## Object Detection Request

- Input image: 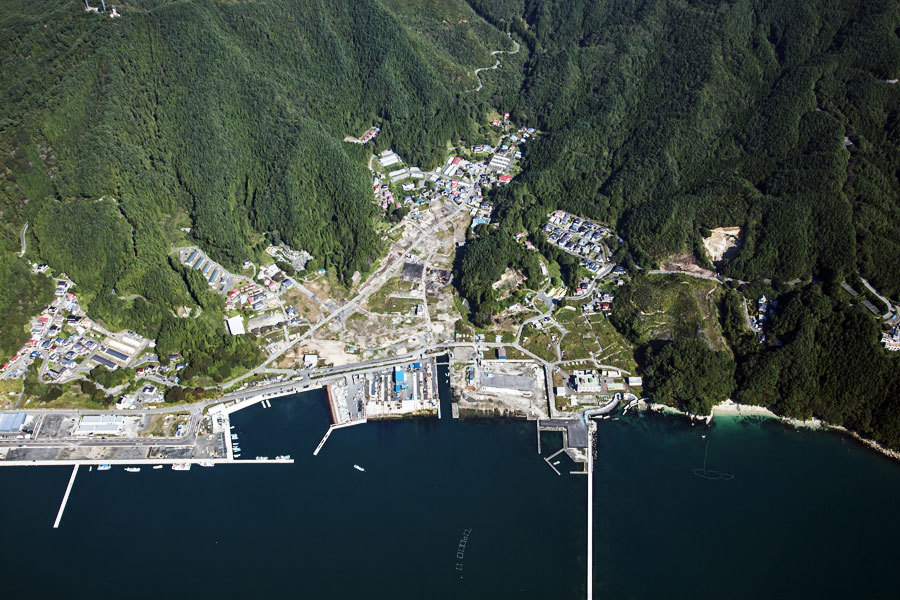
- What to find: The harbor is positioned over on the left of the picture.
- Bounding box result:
[0,383,438,465]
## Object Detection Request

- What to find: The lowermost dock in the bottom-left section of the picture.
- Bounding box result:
[54,464,78,529]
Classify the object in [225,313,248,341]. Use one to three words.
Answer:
building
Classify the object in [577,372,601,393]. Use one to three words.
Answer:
building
